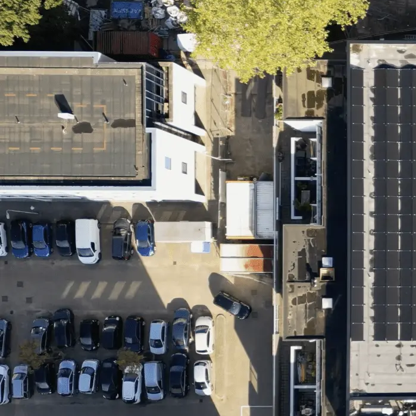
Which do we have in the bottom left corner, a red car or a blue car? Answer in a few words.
blue car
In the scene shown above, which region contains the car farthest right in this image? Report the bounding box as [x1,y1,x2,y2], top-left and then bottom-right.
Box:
[211,290,254,319]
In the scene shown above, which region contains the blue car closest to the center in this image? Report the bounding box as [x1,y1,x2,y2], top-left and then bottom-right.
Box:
[135,220,157,255]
